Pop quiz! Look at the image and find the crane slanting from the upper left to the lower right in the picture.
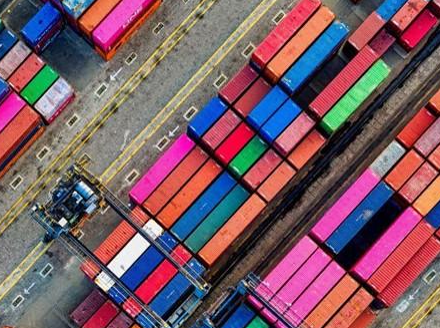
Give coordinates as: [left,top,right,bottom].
[28,161,216,328]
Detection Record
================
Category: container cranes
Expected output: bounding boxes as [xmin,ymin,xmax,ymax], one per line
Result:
[28,161,216,328]
[196,276,311,328]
